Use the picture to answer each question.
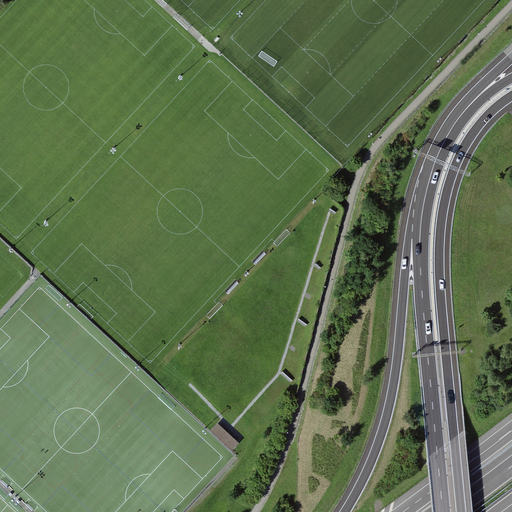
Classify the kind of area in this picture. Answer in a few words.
sports ground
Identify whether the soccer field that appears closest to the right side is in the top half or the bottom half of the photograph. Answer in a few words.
top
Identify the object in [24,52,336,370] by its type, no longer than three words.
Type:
soccer field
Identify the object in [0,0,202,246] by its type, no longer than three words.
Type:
soccer field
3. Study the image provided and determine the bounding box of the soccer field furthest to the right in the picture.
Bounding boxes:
[226,0,488,152]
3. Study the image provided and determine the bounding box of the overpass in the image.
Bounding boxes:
[424,410,474,512]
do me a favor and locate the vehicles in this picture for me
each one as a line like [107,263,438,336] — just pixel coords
[416,243,420,255]
[426,322,431,334]
[402,258,407,269]
[432,172,439,184]
[439,279,444,290]
[482,116,491,125]
[448,390,454,402]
